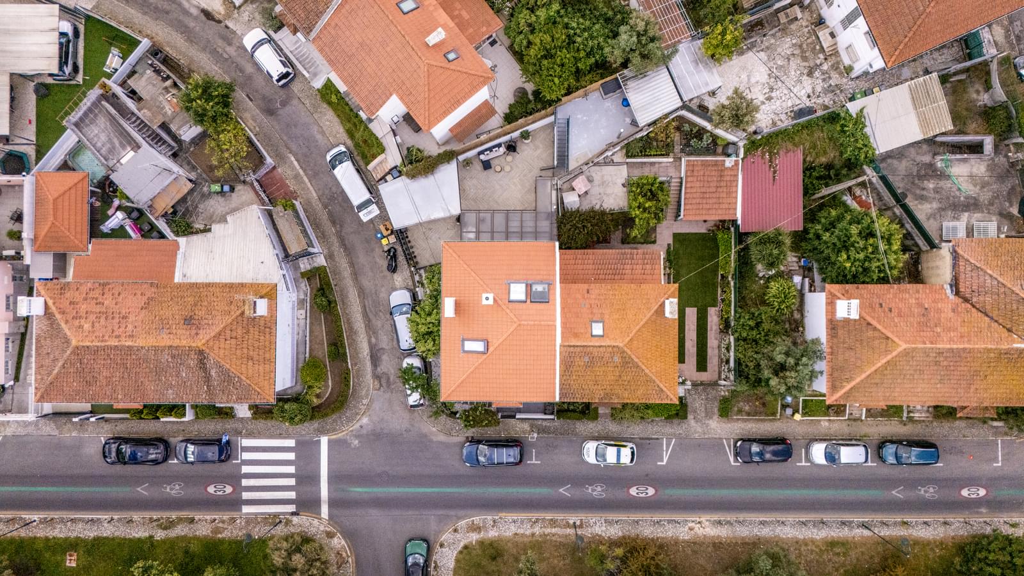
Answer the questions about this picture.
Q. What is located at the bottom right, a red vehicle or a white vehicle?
white vehicle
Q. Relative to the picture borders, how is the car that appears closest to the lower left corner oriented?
from side to side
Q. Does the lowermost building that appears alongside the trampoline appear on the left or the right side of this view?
left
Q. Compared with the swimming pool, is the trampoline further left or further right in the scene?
left of it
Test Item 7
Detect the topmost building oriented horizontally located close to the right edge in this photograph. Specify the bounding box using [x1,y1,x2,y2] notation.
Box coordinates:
[809,0,1024,90]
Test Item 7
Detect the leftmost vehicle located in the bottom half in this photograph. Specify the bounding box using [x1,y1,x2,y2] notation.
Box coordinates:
[103,435,171,468]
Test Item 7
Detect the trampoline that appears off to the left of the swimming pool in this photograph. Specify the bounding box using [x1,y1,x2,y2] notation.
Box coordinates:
[0,150,32,175]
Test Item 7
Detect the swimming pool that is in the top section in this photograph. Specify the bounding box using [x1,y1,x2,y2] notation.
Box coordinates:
[67,141,115,189]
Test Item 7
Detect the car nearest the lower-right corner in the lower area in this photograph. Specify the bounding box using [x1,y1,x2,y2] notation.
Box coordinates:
[876,437,940,468]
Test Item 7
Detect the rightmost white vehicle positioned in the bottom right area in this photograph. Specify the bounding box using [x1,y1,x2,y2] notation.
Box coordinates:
[807,437,871,468]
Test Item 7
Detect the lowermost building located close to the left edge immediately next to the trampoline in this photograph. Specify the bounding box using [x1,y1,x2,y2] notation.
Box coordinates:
[32,171,93,252]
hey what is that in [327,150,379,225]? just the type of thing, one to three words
van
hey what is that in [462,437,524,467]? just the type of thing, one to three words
car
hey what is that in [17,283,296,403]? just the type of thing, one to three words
house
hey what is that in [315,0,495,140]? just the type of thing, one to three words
house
